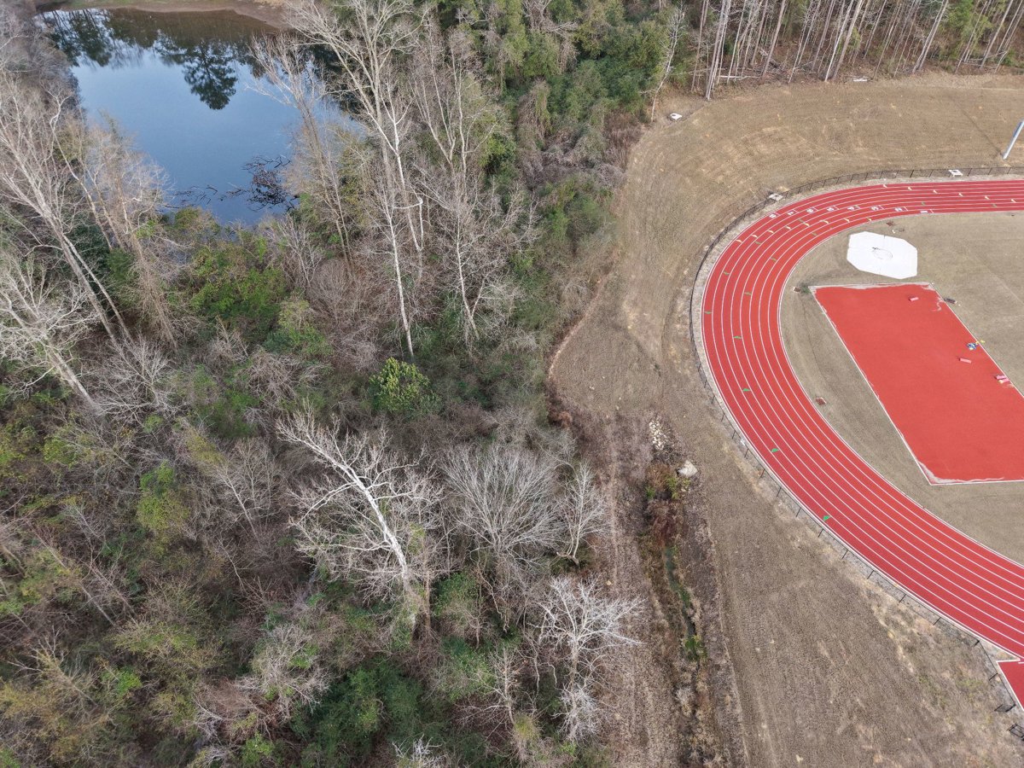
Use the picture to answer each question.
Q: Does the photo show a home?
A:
No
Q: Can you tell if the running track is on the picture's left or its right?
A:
right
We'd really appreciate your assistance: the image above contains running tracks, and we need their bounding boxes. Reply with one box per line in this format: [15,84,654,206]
[698,178,1024,660]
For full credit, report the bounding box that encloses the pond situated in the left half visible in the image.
[36,7,379,234]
